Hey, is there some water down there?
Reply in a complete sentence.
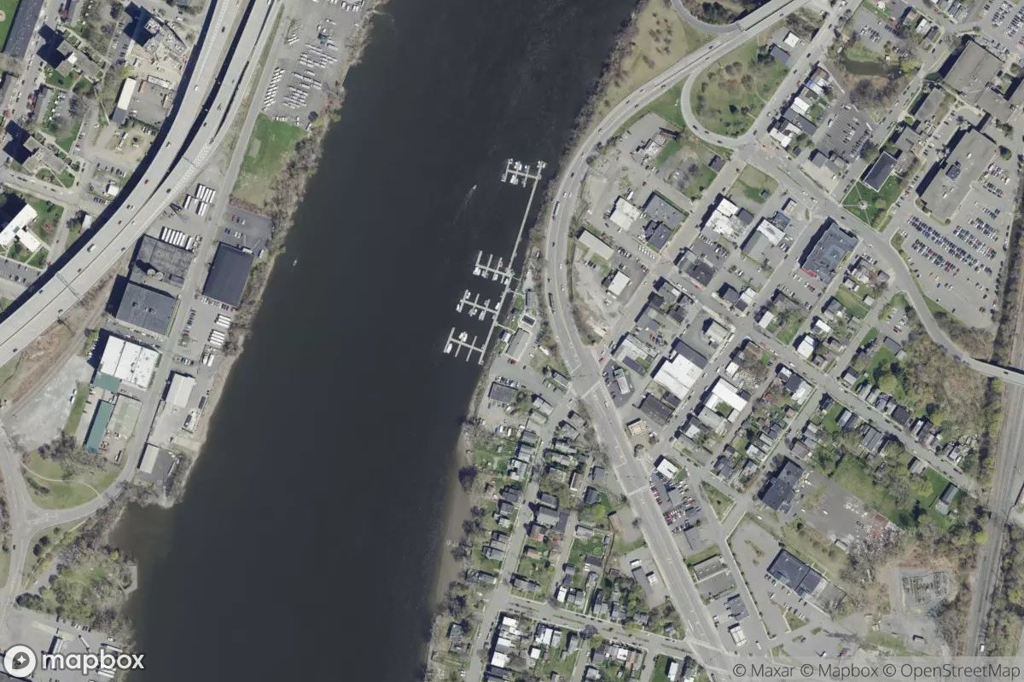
Yes, the picture does contain water.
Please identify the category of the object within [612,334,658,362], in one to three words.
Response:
building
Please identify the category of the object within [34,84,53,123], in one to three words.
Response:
house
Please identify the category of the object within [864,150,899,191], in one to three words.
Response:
building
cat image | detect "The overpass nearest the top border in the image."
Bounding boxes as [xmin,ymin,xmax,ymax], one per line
[664,0,821,81]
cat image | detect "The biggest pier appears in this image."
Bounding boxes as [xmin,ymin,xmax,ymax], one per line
[480,168,541,359]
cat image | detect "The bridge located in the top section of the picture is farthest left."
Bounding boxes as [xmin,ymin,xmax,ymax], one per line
[0,0,246,350]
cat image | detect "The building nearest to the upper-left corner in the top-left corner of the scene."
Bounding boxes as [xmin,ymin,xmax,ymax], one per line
[4,0,43,55]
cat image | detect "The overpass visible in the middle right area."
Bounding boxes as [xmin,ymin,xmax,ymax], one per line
[938,334,1024,382]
